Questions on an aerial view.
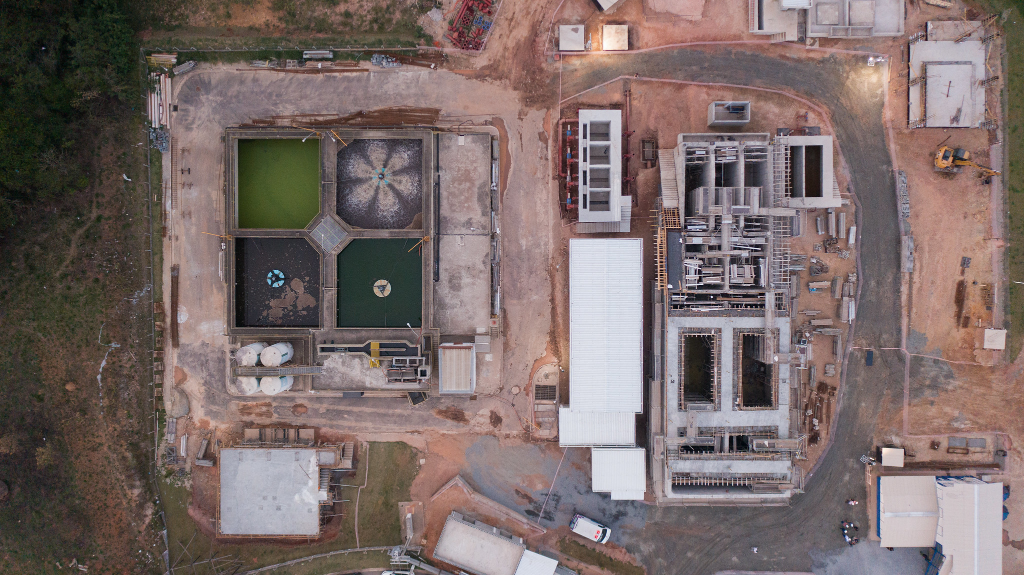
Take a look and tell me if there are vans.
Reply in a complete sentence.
Yes, this view includes a van.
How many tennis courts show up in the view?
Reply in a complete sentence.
No tennis courts are visible.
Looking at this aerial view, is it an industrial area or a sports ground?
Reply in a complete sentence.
The picture captures an industrial area.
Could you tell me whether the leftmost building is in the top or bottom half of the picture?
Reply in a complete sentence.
The leftmost building is in the bottom half of the image.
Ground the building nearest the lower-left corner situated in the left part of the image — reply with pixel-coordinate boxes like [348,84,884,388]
[217,440,345,538]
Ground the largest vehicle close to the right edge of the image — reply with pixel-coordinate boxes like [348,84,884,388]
[929,146,1003,179]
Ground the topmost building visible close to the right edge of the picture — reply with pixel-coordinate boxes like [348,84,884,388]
[905,8,1000,128]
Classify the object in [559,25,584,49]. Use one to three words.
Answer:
shed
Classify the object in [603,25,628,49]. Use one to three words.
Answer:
shed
